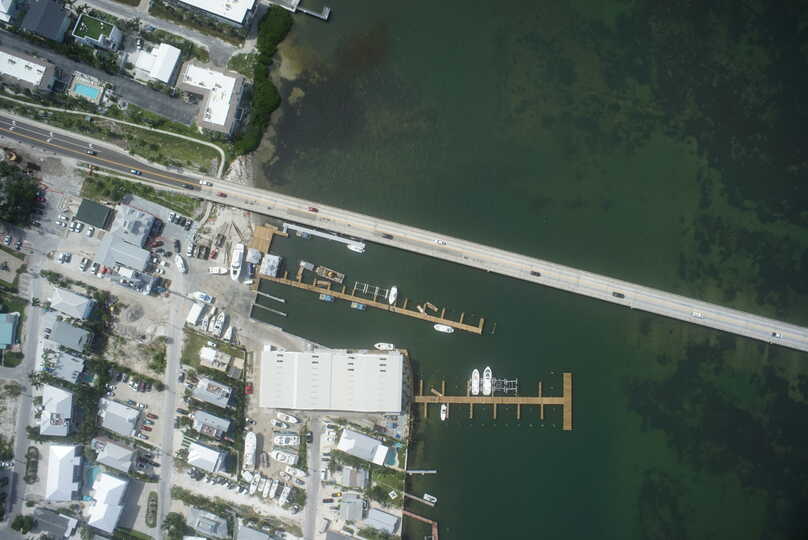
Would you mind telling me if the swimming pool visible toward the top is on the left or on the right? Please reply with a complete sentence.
You can find the swimming pool visible toward the top on the left side of the picture.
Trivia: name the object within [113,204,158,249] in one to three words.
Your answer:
building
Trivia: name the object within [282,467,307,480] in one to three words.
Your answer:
boat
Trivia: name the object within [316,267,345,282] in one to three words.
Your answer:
ship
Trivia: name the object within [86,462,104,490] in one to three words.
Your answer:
swimming pool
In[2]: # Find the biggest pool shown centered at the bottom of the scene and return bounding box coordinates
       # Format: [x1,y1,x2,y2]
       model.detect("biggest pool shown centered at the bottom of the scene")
[384,447,399,467]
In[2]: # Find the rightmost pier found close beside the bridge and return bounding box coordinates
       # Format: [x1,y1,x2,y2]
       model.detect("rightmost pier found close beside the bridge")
[414,373,572,431]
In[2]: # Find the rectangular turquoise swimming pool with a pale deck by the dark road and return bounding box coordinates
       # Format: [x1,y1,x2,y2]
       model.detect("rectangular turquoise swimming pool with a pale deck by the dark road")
[68,73,108,105]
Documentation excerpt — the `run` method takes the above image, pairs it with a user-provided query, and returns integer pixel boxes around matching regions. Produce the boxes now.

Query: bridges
[203,176,808,351]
